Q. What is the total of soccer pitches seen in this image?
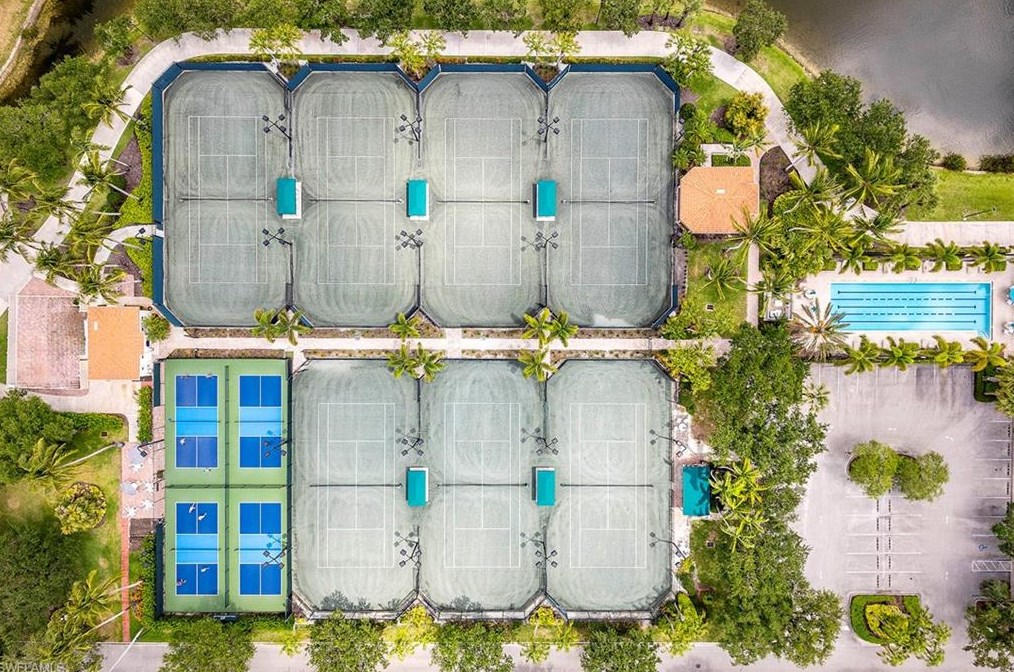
zero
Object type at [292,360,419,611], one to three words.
tennis court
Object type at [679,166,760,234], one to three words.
building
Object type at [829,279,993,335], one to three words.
swimming pool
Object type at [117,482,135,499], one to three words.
umbrella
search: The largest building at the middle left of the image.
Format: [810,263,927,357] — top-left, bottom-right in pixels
[87,306,150,381]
